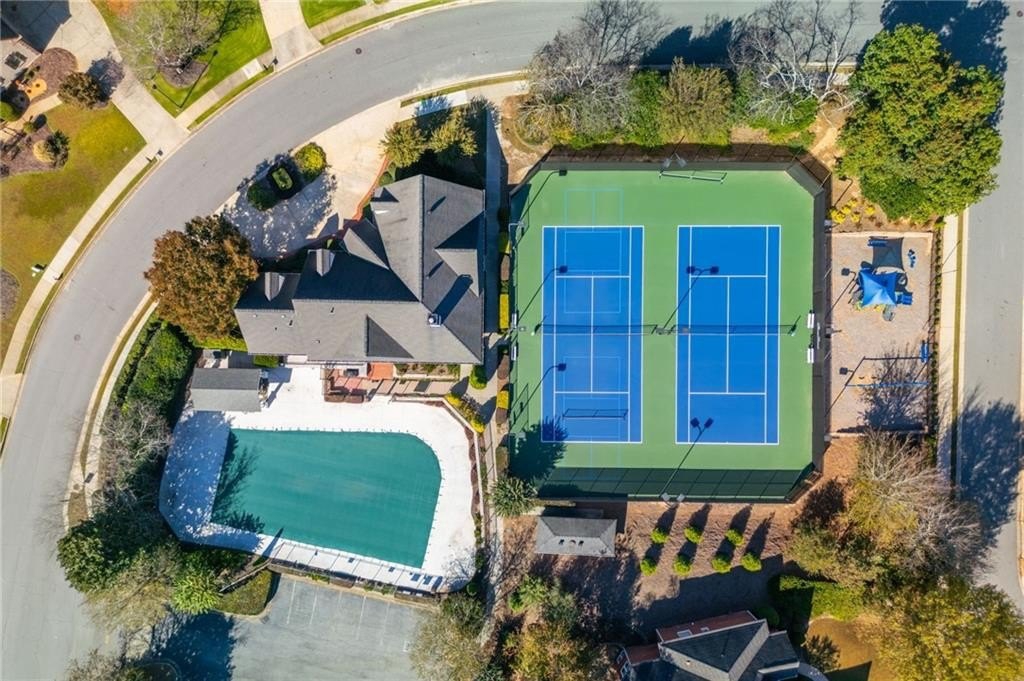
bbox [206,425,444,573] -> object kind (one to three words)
swimming pool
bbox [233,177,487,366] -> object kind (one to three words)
building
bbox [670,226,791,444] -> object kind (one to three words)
tennis court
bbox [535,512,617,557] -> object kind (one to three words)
building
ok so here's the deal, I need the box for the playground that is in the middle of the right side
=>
[830,232,933,433]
